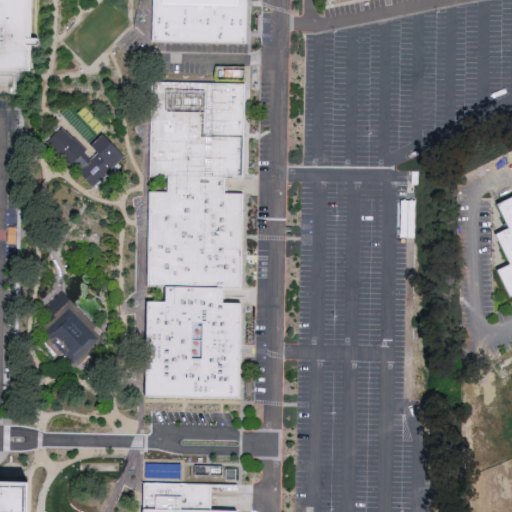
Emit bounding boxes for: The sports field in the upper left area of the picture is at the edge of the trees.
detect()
[64,0,128,64]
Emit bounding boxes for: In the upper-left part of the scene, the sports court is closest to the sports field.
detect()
[60,104,105,142]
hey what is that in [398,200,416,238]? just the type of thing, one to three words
shed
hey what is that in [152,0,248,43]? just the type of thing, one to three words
building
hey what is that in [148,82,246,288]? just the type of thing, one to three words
building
